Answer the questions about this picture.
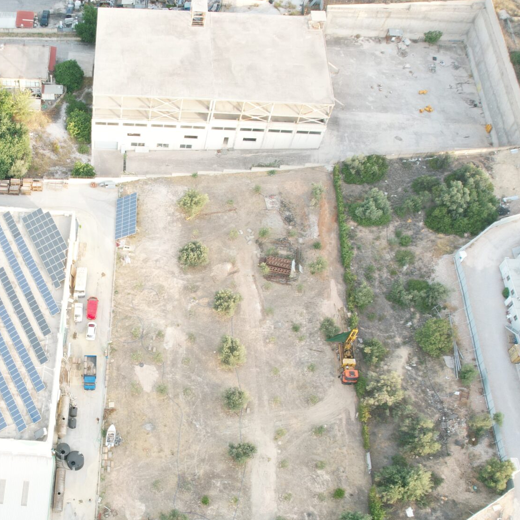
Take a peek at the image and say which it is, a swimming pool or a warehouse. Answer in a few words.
warehouse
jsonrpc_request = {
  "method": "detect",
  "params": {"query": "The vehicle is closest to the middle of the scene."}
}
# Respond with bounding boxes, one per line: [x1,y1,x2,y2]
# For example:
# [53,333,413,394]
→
[340,322,361,388]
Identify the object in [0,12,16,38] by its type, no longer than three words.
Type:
shed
